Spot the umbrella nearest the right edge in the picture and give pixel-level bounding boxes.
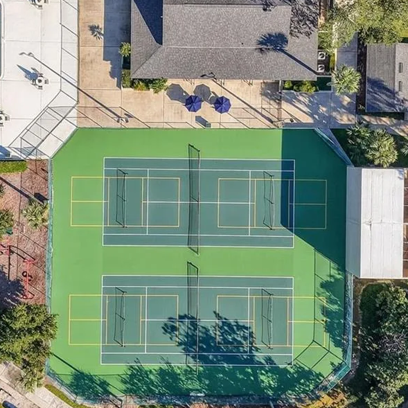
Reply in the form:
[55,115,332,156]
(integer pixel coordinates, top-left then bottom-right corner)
[214,95,232,114]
